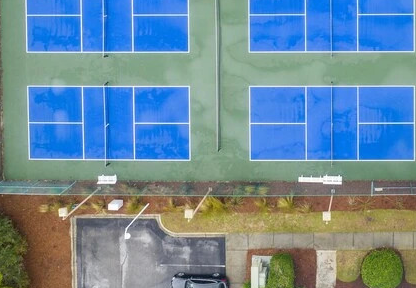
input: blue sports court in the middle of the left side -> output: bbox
[27,85,190,161]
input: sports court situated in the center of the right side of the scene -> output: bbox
[249,85,416,162]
